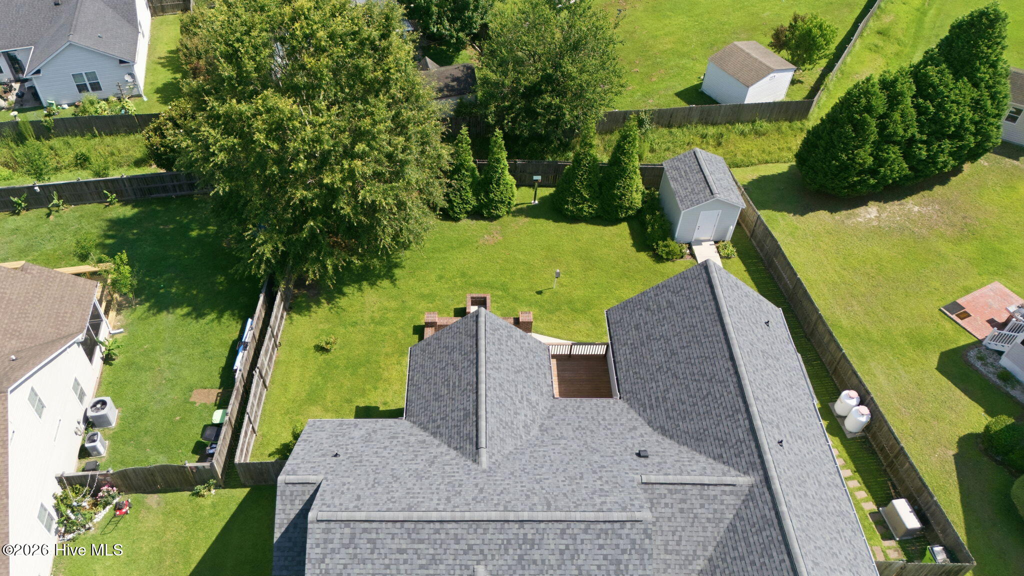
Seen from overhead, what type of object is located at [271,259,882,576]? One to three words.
house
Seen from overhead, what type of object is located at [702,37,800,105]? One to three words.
shed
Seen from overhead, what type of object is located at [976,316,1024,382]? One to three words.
house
